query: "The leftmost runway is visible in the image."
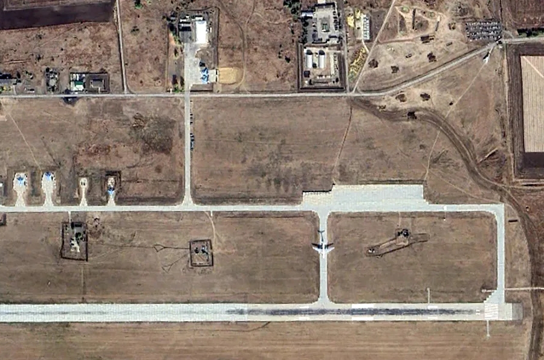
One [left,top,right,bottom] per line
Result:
[0,303,247,322]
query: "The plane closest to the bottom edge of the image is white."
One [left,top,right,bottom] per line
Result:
[313,240,334,258]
